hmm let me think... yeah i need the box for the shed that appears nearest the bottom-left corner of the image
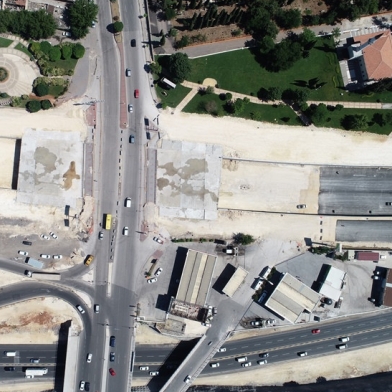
[157,317,187,334]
